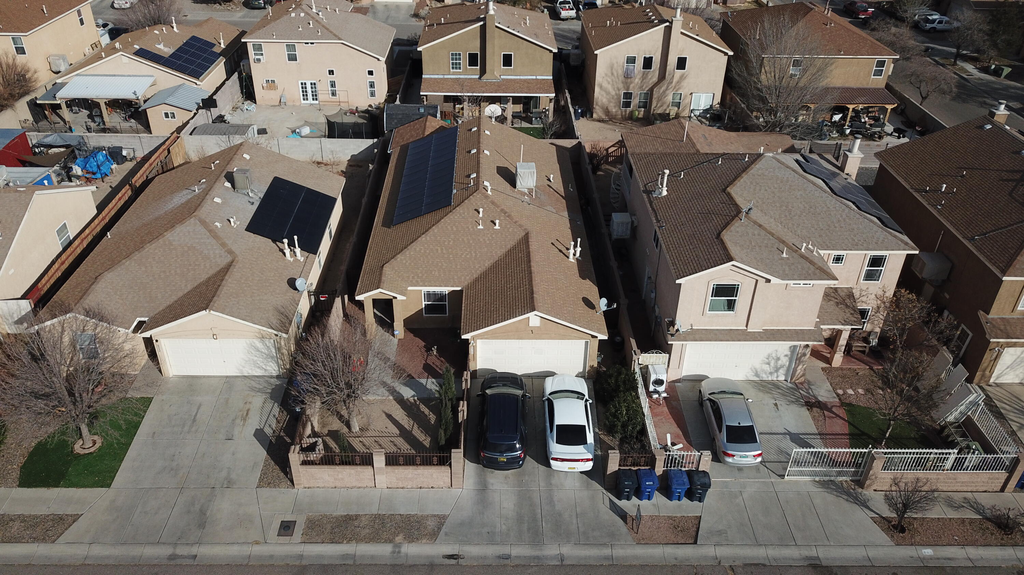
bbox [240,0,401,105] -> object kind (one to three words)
house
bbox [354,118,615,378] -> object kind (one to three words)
house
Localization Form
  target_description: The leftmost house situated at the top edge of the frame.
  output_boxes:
[0,0,112,95]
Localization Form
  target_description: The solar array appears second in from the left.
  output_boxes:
[246,174,338,250]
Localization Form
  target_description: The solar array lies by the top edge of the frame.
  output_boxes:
[131,20,234,77]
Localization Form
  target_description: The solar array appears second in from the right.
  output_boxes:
[390,122,457,222]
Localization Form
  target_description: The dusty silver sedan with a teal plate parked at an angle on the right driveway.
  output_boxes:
[699,379,766,472]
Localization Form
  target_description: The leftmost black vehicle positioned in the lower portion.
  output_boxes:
[474,376,531,474]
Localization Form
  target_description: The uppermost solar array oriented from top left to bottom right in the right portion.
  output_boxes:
[796,150,879,209]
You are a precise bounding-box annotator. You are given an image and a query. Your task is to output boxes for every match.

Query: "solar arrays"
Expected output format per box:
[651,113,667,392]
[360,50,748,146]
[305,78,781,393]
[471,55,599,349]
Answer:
[390,122,457,222]
[246,174,338,250]
[131,20,234,77]
[796,150,879,209]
